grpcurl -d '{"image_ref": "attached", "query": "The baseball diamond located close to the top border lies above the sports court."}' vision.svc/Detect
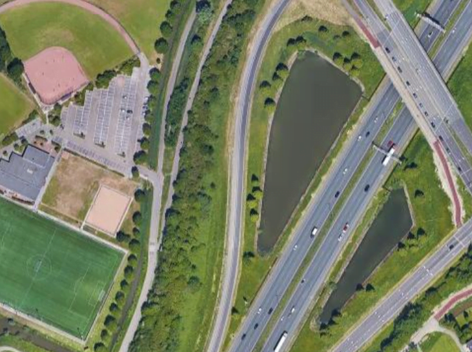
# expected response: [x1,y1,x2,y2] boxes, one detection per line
[0,0,141,115]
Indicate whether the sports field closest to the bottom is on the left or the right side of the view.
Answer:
left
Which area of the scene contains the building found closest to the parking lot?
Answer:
left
